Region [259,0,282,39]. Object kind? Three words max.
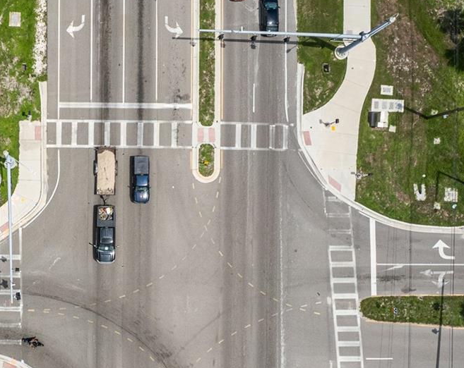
car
